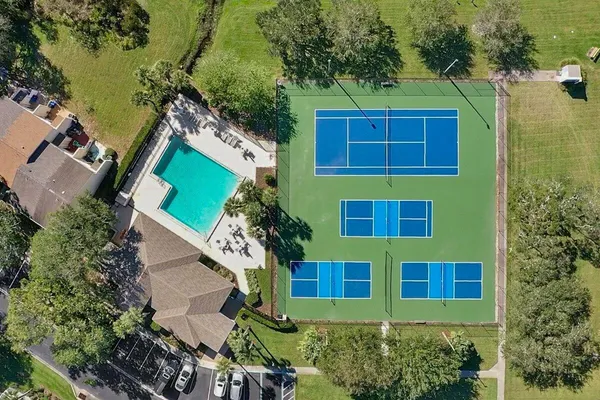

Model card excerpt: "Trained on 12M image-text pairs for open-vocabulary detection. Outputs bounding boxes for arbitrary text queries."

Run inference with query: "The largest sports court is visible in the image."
[277,81,499,321]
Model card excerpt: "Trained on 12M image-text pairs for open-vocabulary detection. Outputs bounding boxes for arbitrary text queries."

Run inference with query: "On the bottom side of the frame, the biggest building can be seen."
[110,213,237,351]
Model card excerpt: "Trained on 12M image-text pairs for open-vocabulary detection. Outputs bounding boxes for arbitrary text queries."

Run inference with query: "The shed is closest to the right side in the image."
[560,64,582,83]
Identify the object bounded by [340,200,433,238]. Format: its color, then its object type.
blue sports court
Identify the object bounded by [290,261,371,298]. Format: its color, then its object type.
blue sports court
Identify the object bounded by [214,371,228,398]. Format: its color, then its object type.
white car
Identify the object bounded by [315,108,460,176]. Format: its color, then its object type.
blue tennis court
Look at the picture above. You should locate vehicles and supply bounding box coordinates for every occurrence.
[231,371,244,400]
[150,356,179,395]
[173,361,194,393]
[214,371,228,398]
